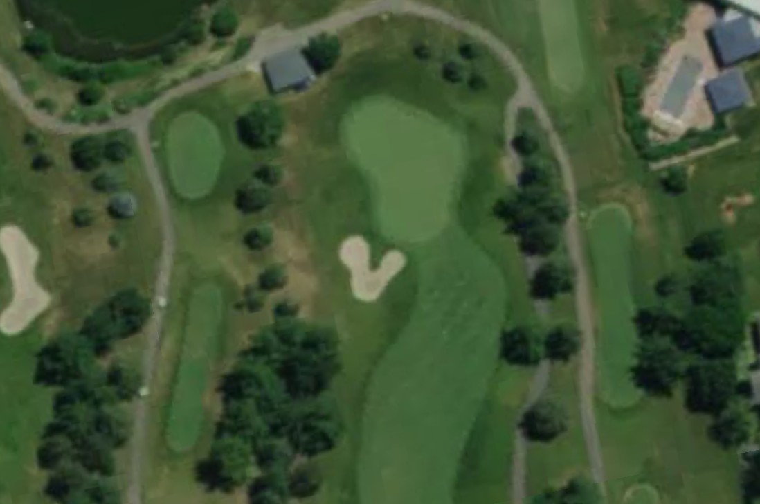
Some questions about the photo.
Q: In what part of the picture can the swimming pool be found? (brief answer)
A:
top right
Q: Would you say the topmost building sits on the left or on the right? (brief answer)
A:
right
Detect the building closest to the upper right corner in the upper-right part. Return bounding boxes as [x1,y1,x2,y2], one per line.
[715,15,760,63]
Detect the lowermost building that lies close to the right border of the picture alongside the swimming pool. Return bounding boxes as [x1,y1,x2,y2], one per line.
[707,66,747,110]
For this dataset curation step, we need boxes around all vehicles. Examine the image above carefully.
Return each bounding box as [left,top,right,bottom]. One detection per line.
[158,297,164,307]
[141,386,147,396]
